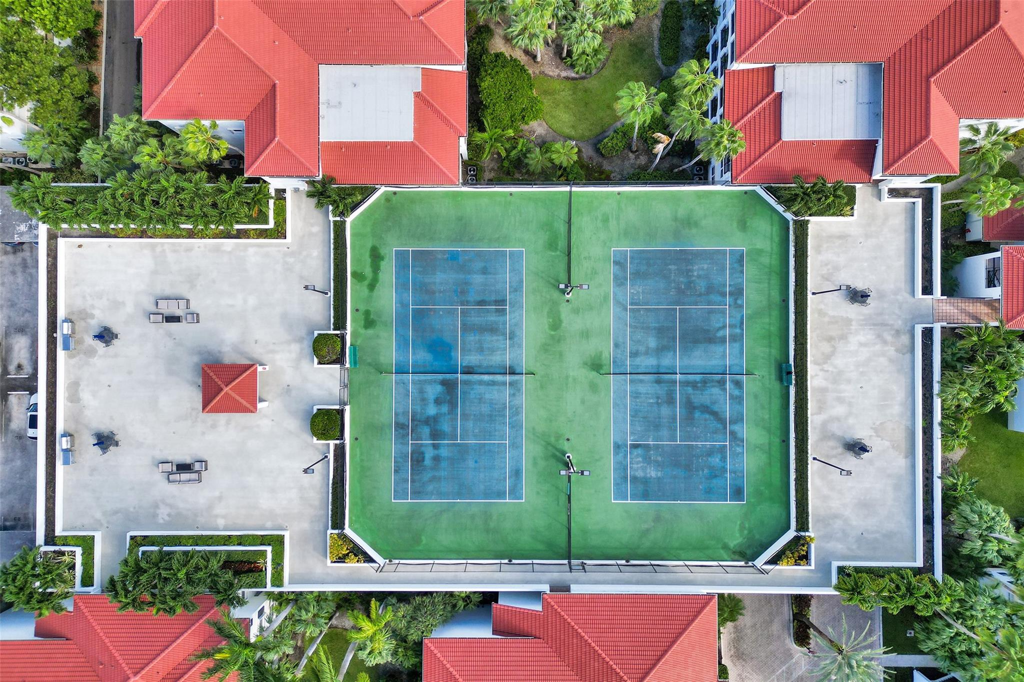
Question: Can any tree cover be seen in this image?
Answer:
Yes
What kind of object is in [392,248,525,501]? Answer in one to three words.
tennis court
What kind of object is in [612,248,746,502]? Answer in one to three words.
tennis court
